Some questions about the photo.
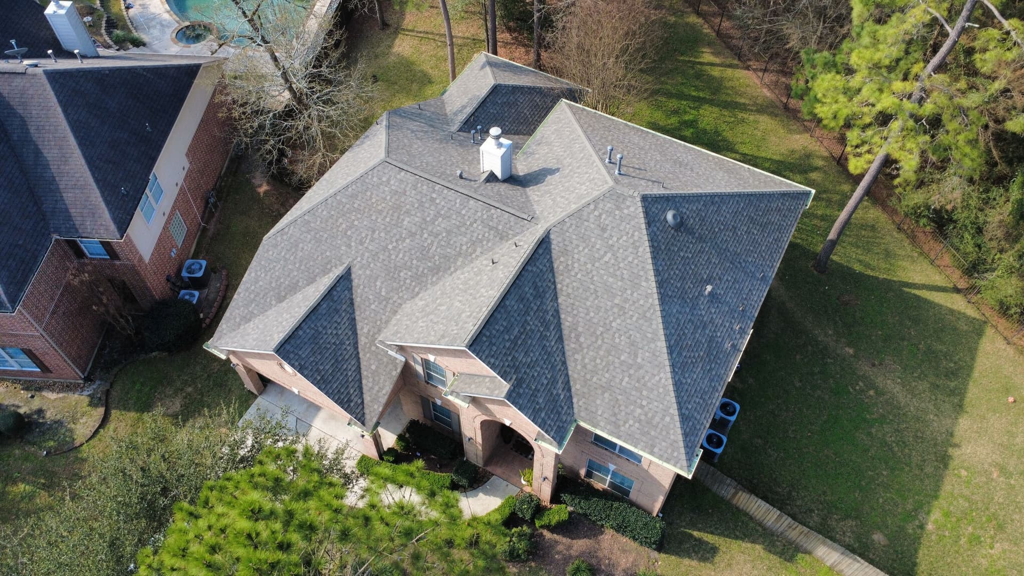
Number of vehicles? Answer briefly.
zero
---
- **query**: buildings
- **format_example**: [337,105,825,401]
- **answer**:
[0,0,233,379]
[203,51,817,520]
